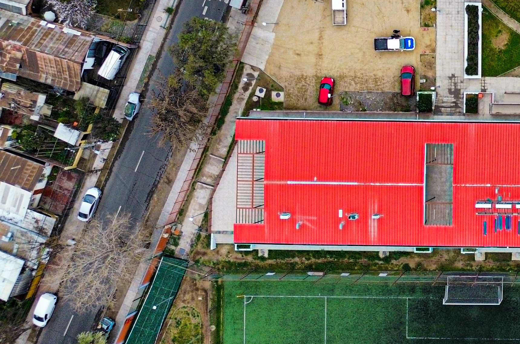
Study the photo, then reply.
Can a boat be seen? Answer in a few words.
No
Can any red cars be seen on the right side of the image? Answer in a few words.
Yes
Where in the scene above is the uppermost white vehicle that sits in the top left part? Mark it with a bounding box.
[96,43,130,83]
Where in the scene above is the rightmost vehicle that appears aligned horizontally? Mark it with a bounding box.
[373,35,416,52]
